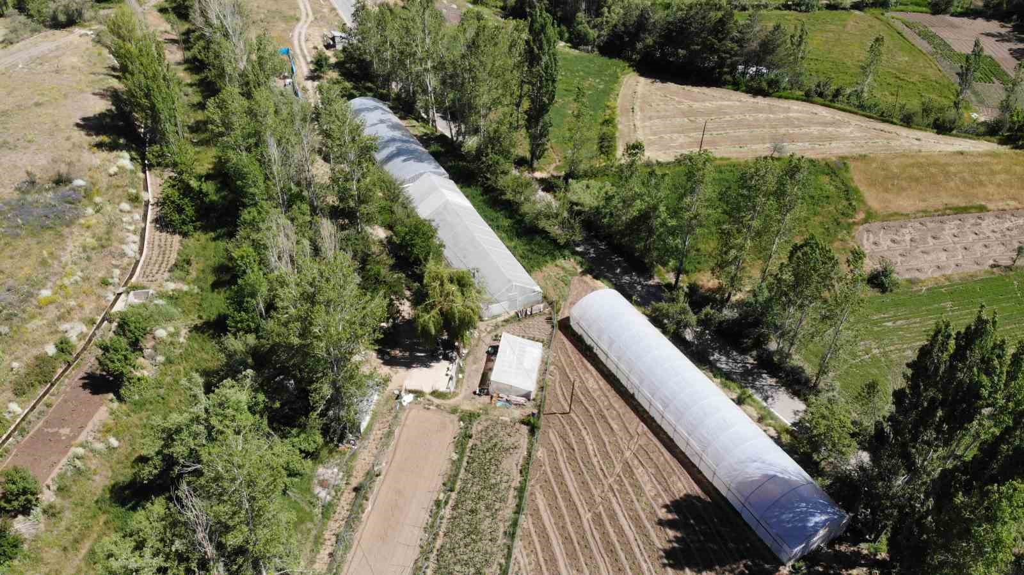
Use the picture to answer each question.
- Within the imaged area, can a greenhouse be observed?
Yes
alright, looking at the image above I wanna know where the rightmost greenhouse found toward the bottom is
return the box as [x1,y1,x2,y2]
[566,287,858,565]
